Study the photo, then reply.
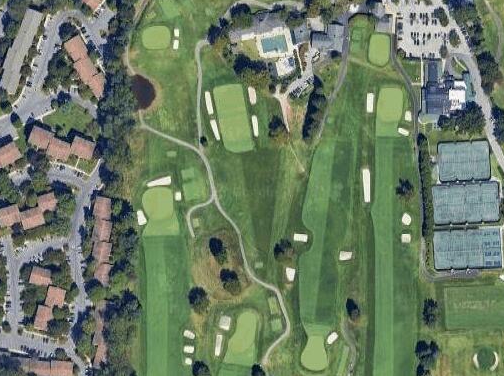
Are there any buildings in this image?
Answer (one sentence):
Yes, there's a building down there.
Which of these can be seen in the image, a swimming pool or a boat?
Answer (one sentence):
The one in the frame is a swimming pool.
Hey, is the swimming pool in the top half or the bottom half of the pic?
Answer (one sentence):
Seen from above, the swimming pool lies in the top half of the view.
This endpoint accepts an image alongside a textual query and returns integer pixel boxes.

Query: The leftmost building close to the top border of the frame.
[0,7,43,94]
